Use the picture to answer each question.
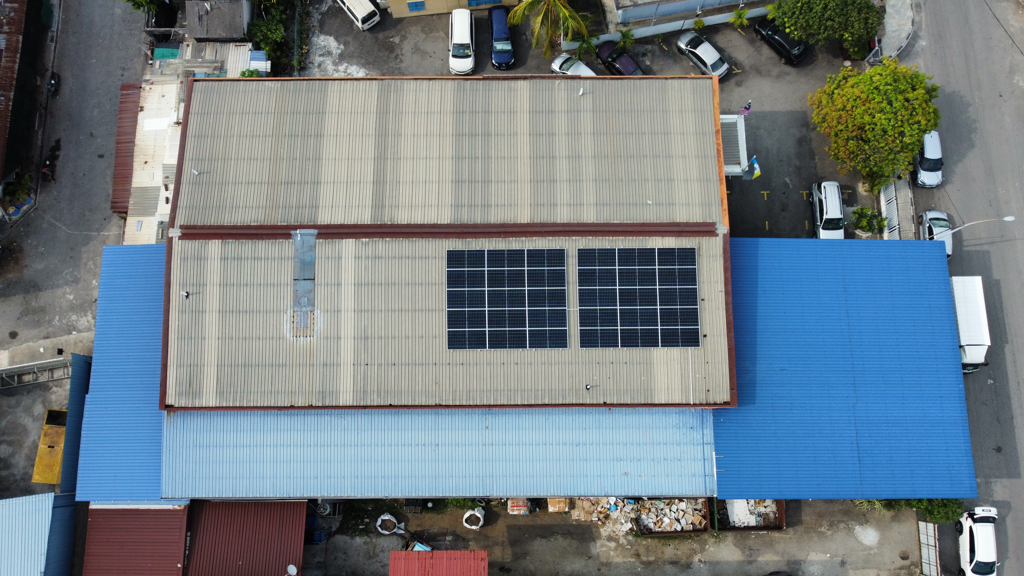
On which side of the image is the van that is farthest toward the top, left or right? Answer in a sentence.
It is on the left.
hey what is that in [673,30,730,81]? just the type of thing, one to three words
car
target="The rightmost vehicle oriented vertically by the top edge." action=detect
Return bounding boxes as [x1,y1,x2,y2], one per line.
[489,10,518,71]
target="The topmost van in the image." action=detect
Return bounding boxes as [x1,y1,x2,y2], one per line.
[333,0,378,33]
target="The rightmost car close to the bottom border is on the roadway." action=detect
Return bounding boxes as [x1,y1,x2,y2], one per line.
[954,504,1000,576]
